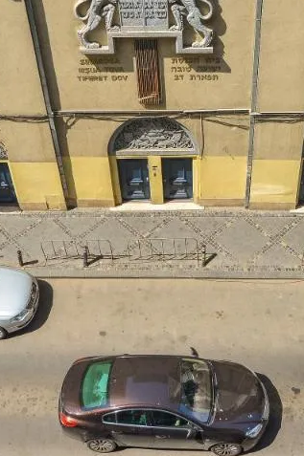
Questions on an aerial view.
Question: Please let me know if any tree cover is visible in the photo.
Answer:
No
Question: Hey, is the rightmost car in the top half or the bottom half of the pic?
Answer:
bottom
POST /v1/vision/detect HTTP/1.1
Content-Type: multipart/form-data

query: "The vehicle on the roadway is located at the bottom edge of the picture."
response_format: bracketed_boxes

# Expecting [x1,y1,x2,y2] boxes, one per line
[57,343,270,456]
